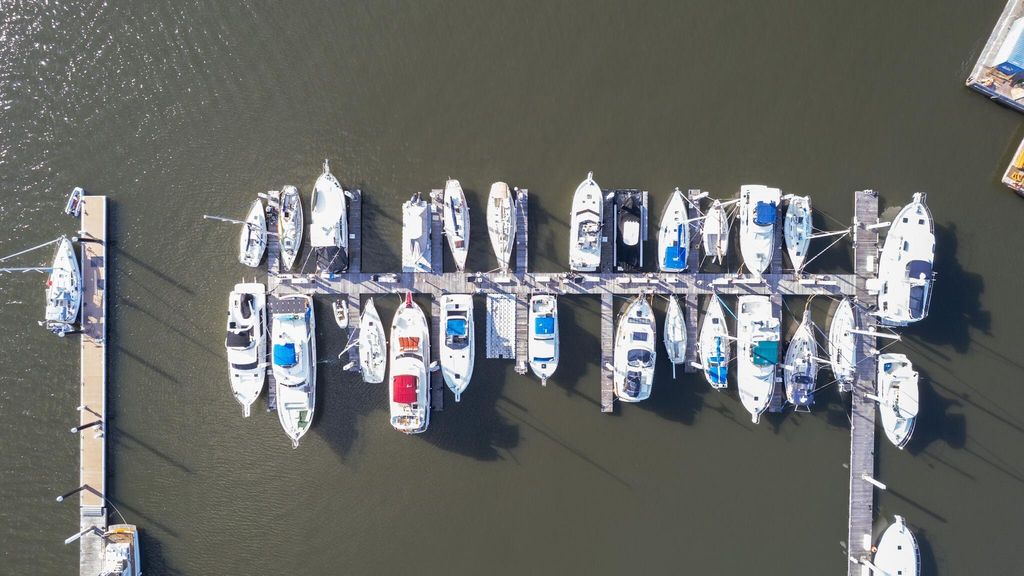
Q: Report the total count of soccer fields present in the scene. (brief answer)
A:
none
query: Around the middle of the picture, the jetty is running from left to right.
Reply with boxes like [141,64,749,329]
[268,273,854,294]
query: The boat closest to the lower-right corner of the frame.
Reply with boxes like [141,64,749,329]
[869,512,921,576]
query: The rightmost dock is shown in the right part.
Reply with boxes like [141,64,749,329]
[847,191,878,576]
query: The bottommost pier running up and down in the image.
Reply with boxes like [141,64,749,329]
[80,506,108,576]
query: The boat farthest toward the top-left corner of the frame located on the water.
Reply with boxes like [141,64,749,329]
[66,187,83,217]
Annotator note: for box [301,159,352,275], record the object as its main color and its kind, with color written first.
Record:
white boat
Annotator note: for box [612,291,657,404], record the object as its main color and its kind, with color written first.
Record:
white boat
